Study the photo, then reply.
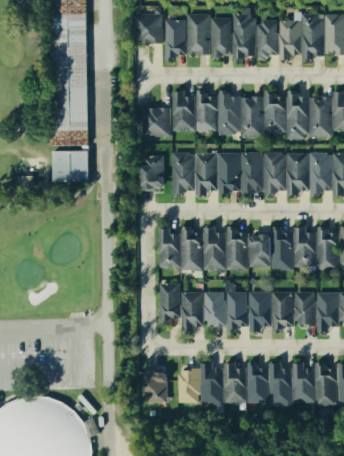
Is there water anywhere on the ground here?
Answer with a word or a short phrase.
No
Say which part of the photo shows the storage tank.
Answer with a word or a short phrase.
bottom left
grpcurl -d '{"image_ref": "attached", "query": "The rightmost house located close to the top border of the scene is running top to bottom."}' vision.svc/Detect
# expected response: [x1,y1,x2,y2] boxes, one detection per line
[325,14,344,56]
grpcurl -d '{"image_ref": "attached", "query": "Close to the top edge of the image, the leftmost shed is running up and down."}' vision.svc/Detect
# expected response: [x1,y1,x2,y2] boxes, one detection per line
[50,0,86,146]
